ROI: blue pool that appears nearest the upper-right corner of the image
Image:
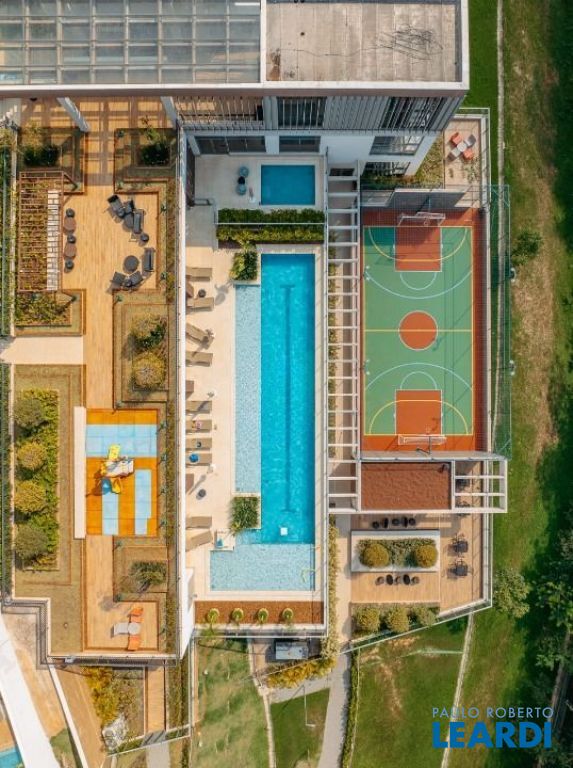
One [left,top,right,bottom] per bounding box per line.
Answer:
[258,162,318,205]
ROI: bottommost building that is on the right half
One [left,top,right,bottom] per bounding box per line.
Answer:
[325,450,507,514]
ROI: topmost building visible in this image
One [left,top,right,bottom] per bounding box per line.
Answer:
[0,0,467,176]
